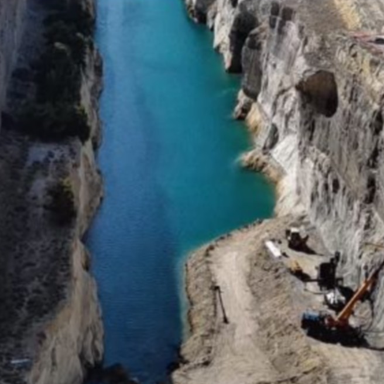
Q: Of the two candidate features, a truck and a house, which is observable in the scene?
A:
truck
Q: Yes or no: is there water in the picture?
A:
Yes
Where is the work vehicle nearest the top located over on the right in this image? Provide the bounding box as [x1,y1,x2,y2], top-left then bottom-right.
[282,225,320,247]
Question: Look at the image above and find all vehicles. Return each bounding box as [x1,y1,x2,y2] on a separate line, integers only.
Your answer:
[304,259,384,343]
[282,225,320,247]
[323,286,352,311]
[288,259,318,279]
